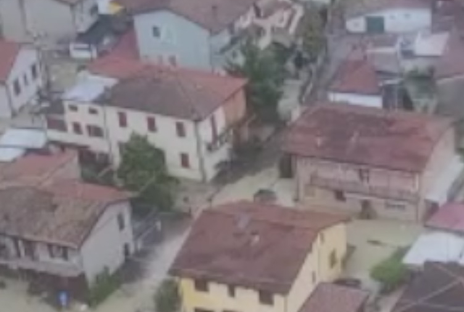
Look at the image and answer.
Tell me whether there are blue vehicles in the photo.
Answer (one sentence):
No, there's no blue vehicle here.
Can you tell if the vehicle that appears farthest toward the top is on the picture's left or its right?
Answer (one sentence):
The vehicle that appears farthest toward the top sits on the left side.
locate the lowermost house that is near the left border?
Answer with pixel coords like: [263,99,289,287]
[0,177,133,295]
